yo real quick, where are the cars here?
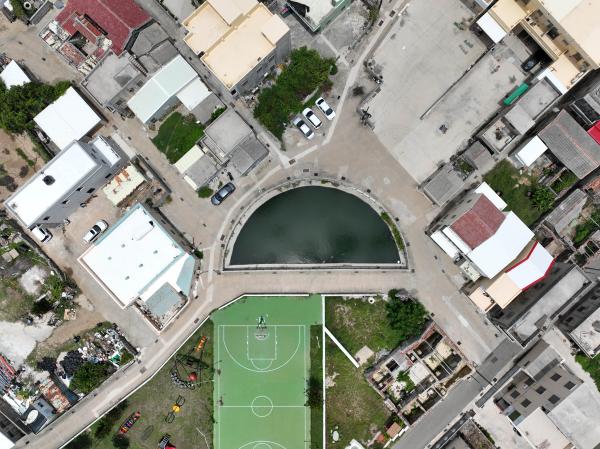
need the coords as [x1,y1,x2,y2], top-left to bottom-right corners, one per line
[294,116,315,141]
[209,181,236,206]
[83,220,110,243]
[303,106,323,132]
[516,50,544,74]
[315,97,336,121]
[29,226,56,244]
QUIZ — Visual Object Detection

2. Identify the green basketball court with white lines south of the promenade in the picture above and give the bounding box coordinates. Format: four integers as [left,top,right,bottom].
[210,297,322,449]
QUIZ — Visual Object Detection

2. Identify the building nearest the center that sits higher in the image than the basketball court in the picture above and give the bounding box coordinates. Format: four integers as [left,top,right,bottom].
[227,131,271,178]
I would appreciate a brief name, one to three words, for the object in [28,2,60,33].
shed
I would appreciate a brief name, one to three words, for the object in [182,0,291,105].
house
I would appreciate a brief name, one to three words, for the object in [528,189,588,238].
shed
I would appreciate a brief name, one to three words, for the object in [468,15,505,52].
house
